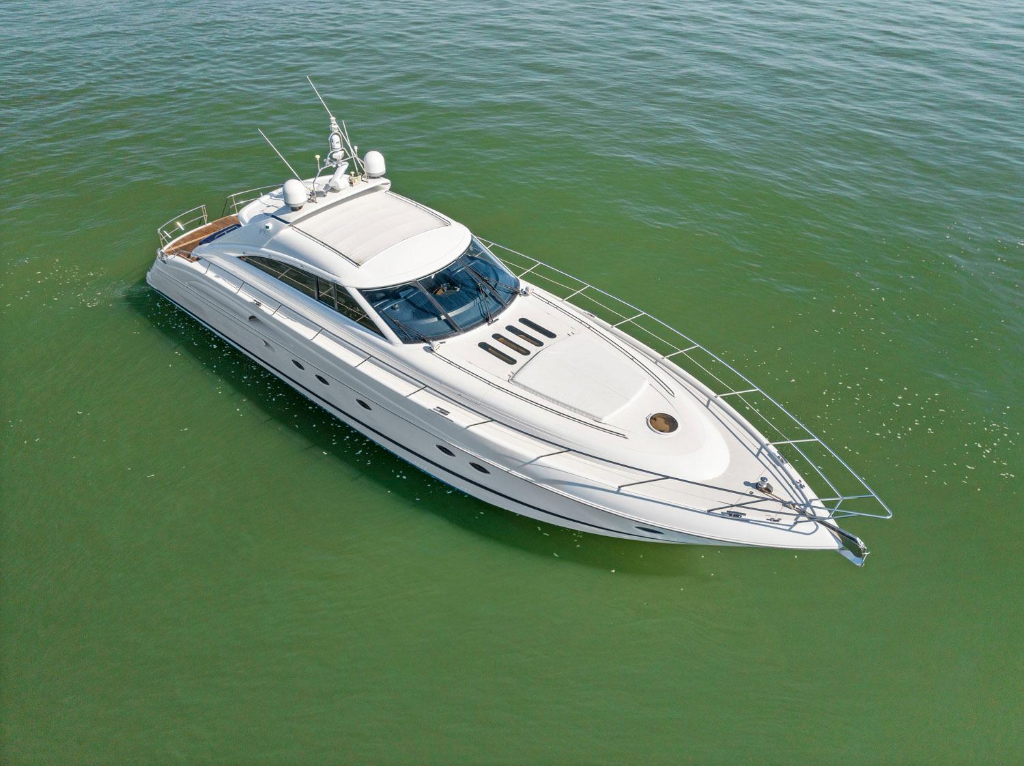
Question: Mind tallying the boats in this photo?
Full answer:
The picture shows 1 boat.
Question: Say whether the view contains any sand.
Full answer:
No, the picture contains no sand.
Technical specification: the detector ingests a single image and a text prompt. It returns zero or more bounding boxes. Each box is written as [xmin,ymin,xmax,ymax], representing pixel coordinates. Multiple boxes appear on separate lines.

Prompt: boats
[147,71,893,564]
